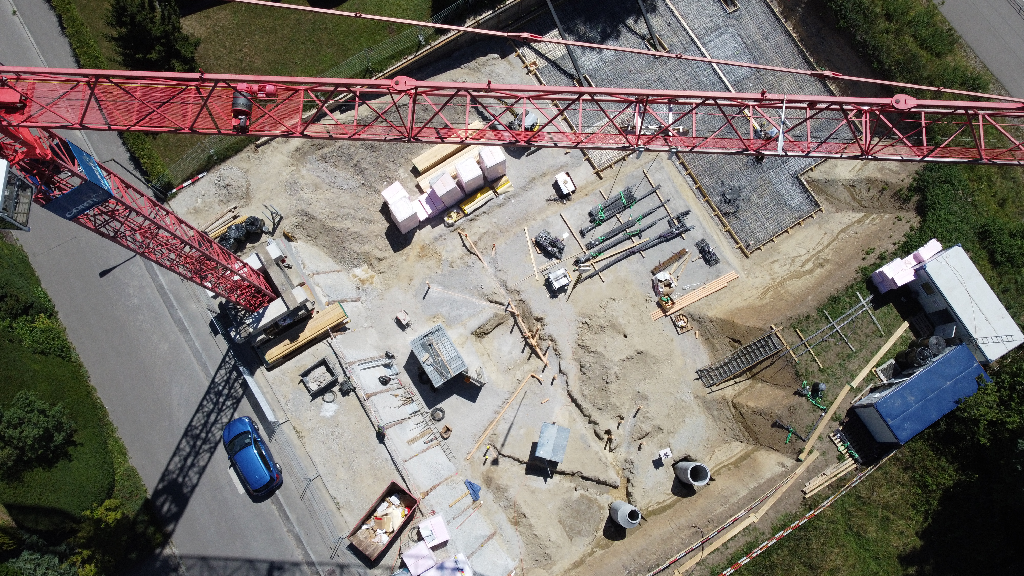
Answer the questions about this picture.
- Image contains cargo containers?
Yes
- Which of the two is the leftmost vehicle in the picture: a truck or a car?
car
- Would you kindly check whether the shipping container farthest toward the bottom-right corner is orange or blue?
blue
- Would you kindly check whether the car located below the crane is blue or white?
blue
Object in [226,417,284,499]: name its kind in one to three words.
car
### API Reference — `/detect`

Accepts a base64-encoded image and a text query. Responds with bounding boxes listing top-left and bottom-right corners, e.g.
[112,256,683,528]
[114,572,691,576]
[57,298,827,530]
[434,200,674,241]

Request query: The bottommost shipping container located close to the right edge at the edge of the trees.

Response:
[851,342,995,445]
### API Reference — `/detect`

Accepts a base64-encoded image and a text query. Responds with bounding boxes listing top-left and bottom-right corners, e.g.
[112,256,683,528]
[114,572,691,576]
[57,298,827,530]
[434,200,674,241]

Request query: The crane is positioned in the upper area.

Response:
[0,0,1024,311]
